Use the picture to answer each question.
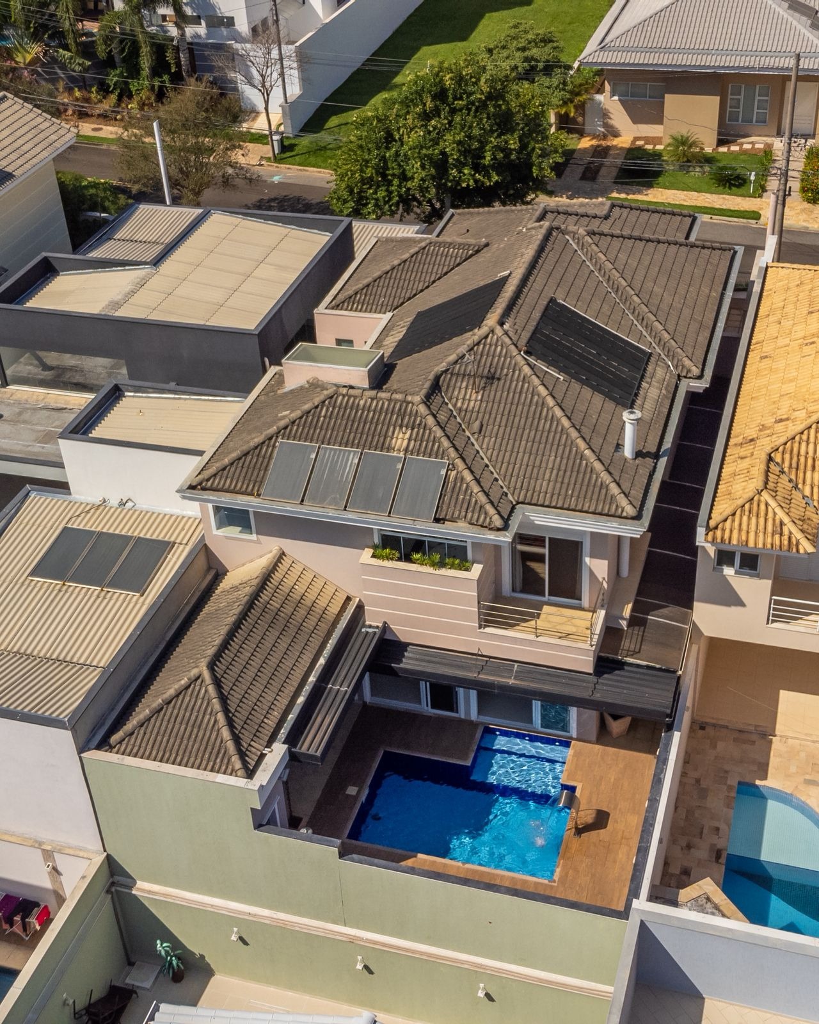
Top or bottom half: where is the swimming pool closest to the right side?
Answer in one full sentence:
It is in the bottom half that the swimming pool closest to the right side appears.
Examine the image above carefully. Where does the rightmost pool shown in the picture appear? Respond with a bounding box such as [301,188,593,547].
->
[717,777,819,939]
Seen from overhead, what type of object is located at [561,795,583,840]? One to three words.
fountain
